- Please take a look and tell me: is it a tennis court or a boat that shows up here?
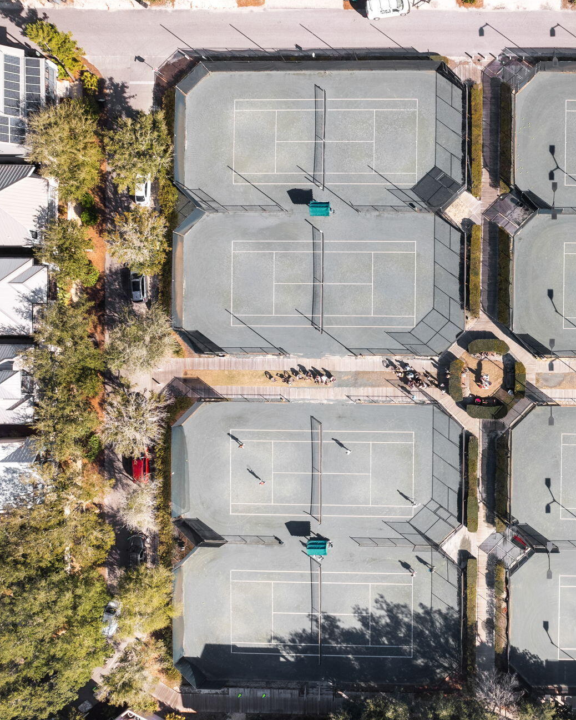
tennis court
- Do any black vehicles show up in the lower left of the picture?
Yes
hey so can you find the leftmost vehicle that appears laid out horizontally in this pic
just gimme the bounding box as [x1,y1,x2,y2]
[366,0,408,18]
